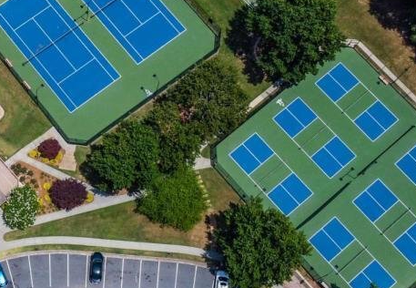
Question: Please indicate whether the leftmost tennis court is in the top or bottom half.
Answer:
top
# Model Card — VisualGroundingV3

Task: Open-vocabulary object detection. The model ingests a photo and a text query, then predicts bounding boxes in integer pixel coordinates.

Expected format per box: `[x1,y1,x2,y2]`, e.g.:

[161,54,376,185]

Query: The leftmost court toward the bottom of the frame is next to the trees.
[229,132,314,214]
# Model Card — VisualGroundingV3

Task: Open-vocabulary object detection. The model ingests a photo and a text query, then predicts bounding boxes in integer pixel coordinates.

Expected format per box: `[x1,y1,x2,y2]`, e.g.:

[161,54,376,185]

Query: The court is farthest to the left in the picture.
[0,0,122,113]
